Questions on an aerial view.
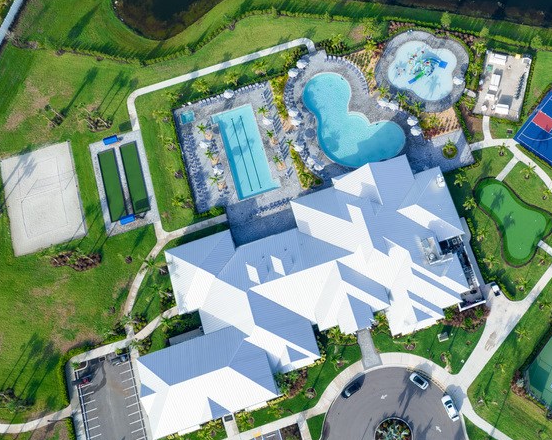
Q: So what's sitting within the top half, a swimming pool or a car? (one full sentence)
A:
The feature located within the top half is a swimming pool.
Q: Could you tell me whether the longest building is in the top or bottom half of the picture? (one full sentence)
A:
Seen from above, the longest building lies in the bottom half of the view.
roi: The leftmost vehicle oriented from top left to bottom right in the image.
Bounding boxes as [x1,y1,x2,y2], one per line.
[408,372,430,390]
